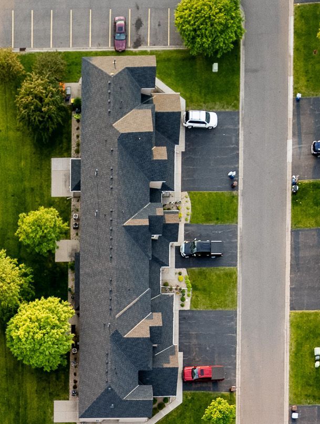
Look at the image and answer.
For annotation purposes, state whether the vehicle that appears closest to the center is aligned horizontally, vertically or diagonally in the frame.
horizontally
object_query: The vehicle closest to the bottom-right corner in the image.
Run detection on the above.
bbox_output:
[182,364,226,382]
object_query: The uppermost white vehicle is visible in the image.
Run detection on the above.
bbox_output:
[183,110,217,130]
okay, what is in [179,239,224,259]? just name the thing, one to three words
vehicle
